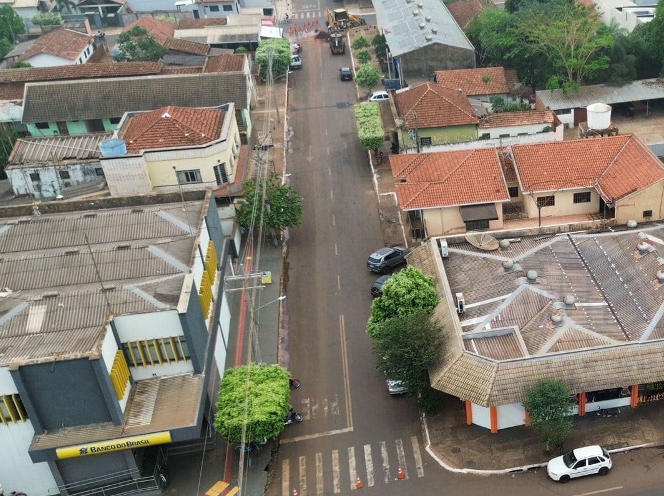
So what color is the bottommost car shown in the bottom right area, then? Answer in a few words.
white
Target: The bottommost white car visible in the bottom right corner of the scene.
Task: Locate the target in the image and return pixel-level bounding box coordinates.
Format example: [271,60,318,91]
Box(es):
[547,442,616,482]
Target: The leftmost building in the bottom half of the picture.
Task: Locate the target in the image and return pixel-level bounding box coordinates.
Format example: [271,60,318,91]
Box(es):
[0,186,237,496]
